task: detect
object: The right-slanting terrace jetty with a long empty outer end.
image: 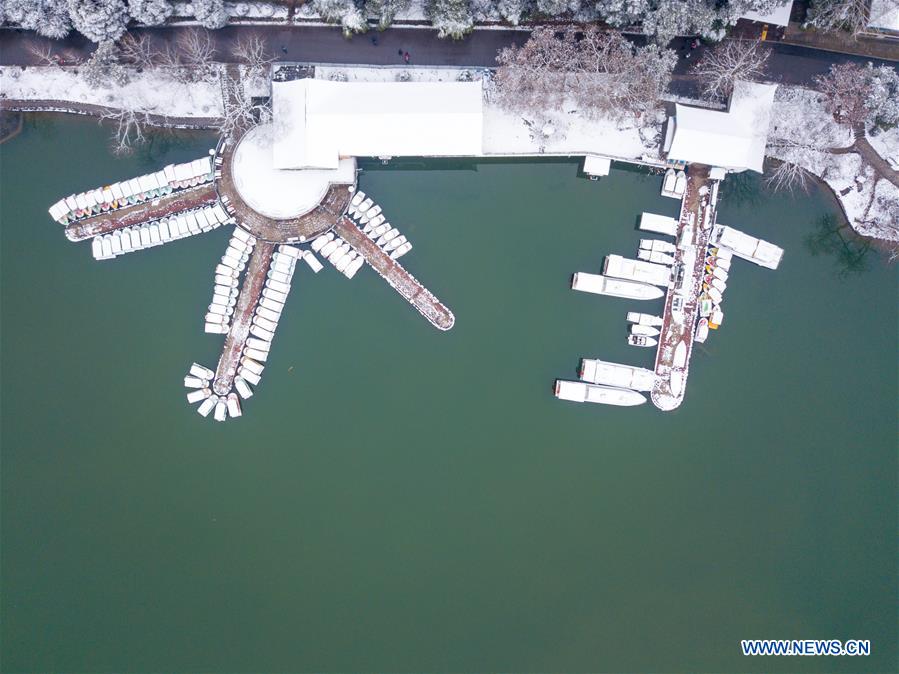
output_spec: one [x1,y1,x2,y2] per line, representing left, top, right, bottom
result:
[331,214,454,331]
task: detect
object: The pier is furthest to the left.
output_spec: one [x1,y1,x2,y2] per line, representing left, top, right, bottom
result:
[61,184,219,243]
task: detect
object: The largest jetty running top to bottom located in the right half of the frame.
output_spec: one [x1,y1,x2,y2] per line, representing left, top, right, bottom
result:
[650,164,720,412]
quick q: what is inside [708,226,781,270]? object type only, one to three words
vessel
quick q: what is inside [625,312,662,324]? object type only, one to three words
boat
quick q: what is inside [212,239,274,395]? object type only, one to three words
pier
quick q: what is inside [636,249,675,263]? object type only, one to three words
boat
